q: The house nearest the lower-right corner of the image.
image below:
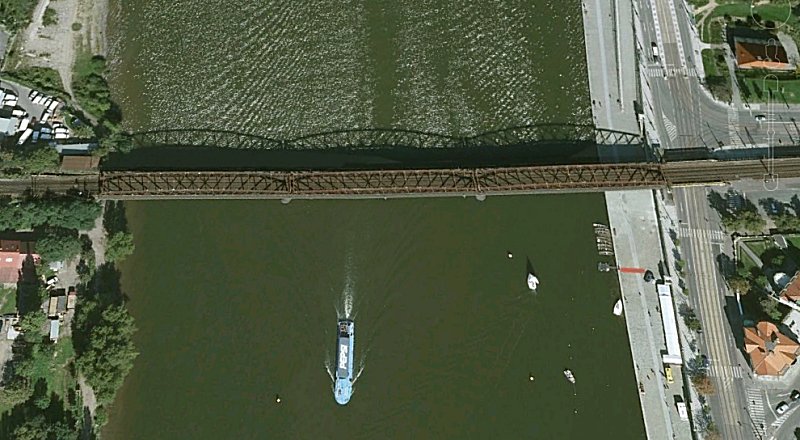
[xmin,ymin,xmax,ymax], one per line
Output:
[741,321,799,374]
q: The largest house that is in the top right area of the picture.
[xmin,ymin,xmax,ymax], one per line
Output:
[735,39,790,69]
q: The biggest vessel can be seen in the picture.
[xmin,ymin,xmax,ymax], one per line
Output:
[334,319,354,405]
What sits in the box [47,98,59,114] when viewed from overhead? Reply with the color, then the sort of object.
white vehicle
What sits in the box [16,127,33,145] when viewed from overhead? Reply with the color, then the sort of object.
white vehicle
